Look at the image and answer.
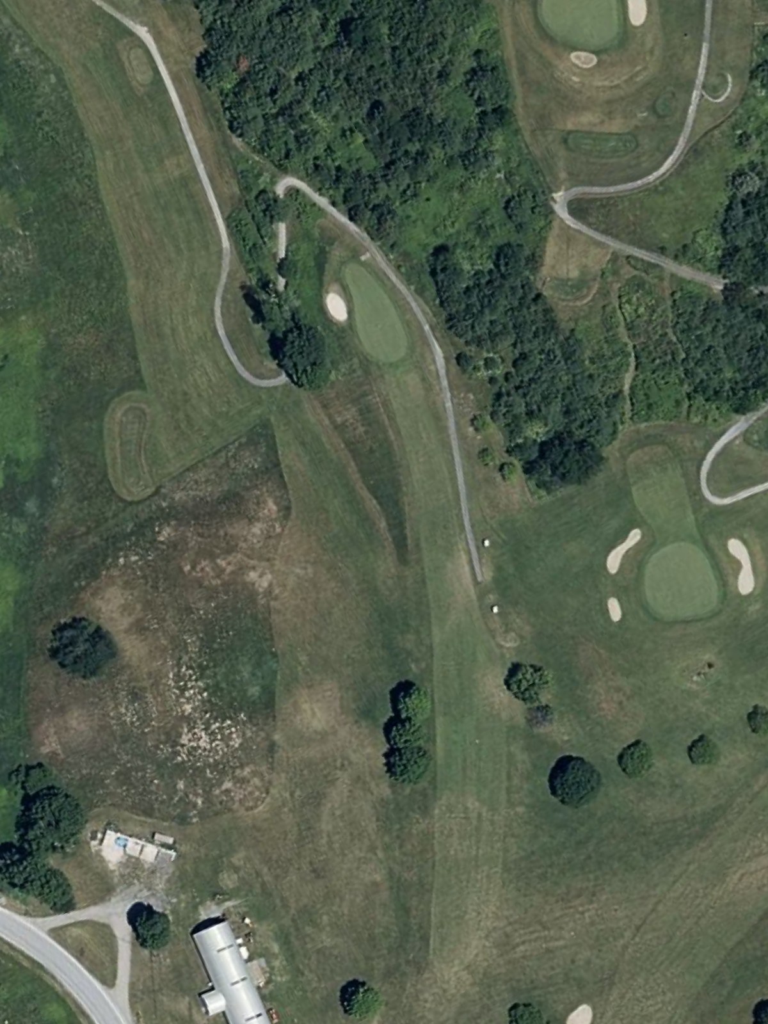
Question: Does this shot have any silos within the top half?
No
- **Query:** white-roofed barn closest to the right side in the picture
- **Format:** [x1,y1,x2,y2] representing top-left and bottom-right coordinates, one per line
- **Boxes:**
[194,922,270,1024]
